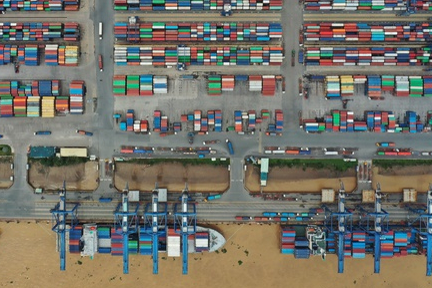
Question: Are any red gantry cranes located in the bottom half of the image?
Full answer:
No, there's no red gantry crane to be seen in the bottom half of the image.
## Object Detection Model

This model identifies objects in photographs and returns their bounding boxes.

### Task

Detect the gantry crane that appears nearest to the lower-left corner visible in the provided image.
[52,179,83,271]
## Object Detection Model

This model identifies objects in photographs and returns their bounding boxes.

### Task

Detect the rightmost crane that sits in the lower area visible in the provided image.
[400,182,432,275]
